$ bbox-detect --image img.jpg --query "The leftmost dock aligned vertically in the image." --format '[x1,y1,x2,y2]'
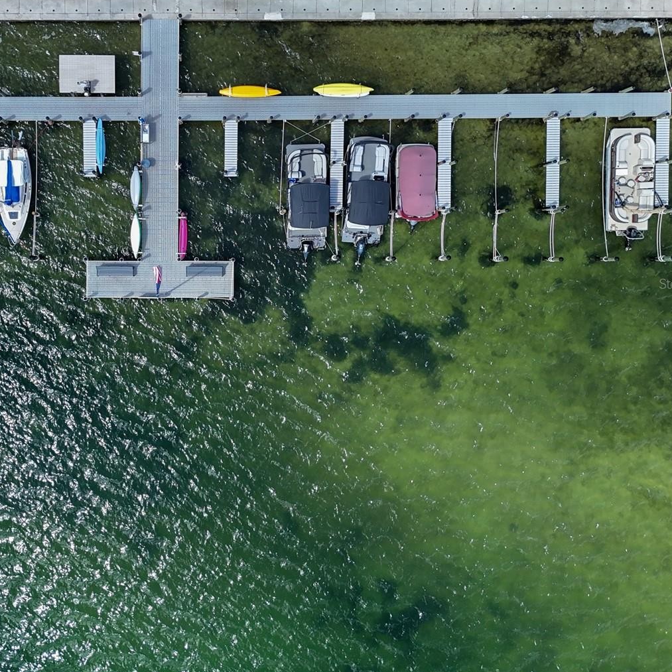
[81,114,100,178]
